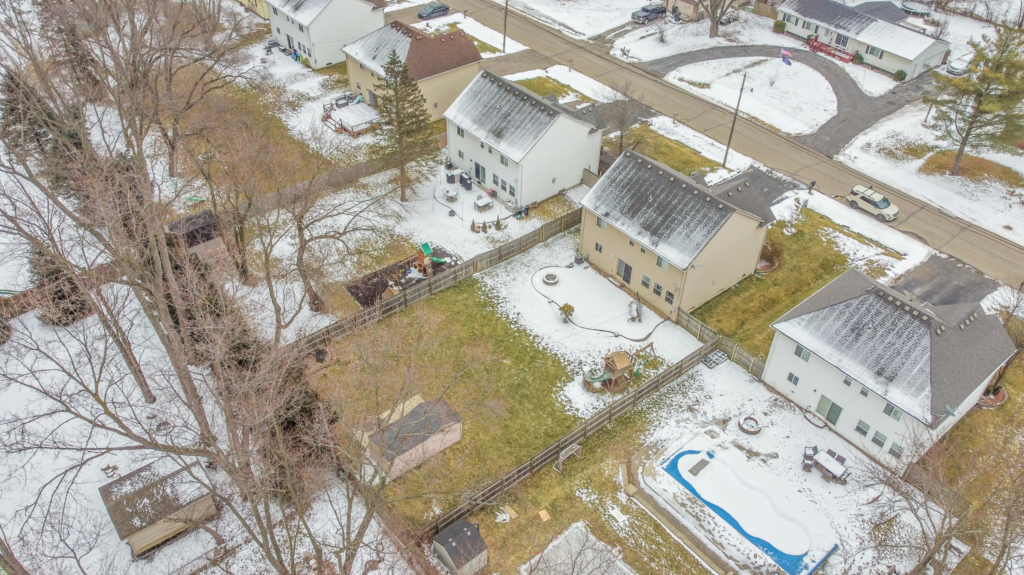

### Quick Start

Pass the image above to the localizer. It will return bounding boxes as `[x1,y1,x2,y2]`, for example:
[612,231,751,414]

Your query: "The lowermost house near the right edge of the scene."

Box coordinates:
[755,269,1018,479]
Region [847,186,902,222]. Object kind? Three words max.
car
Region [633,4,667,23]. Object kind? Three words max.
vehicle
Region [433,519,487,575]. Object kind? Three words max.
shed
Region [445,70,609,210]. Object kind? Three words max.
house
